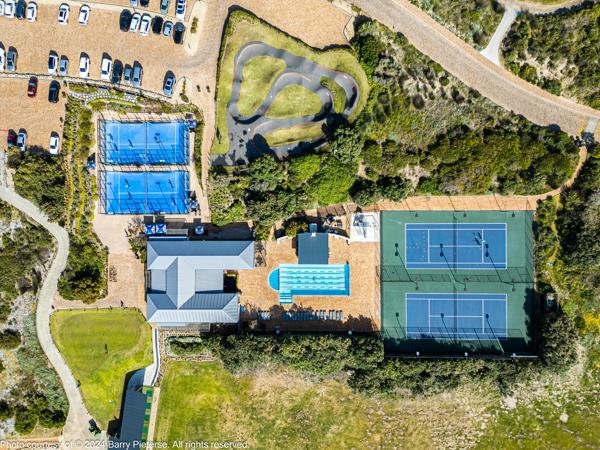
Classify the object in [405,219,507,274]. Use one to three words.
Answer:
tennis court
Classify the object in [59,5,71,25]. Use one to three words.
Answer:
vehicle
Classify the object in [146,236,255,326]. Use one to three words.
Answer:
building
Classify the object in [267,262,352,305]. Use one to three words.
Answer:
swimming pool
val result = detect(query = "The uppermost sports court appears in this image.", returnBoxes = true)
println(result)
[99,118,189,165]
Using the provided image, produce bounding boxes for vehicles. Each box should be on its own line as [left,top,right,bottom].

[154,17,163,35]
[163,75,175,96]
[101,59,112,80]
[6,131,18,149]
[131,67,142,87]
[139,0,149,9]
[15,0,28,21]
[48,134,60,154]
[79,58,90,79]
[159,0,171,15]
[111,62,124,83]
[49,82,61,103]
[141,13,152,36]
[129,0,138,10]
[89,427,100,439]
[27,2,39,22]
[131,14,142,32]
[28,79,39,97]
[163,20,173,38]
[16,131,28,151]
[122,66,134,84]
[0,49,8,70]
[6,52,18,72]
[58,59,69,77]
[79,5,90,26]
[47,56,59,75]
[59,5,71,25]
[120,11,132,32]
[4,0,16,21]
[173,22,184,45]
